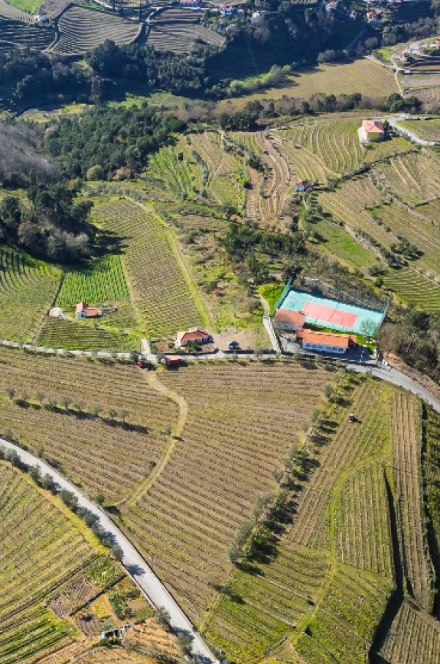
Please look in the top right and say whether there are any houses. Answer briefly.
Yes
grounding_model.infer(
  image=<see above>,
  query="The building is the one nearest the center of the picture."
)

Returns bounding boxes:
[176,330,214,351]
